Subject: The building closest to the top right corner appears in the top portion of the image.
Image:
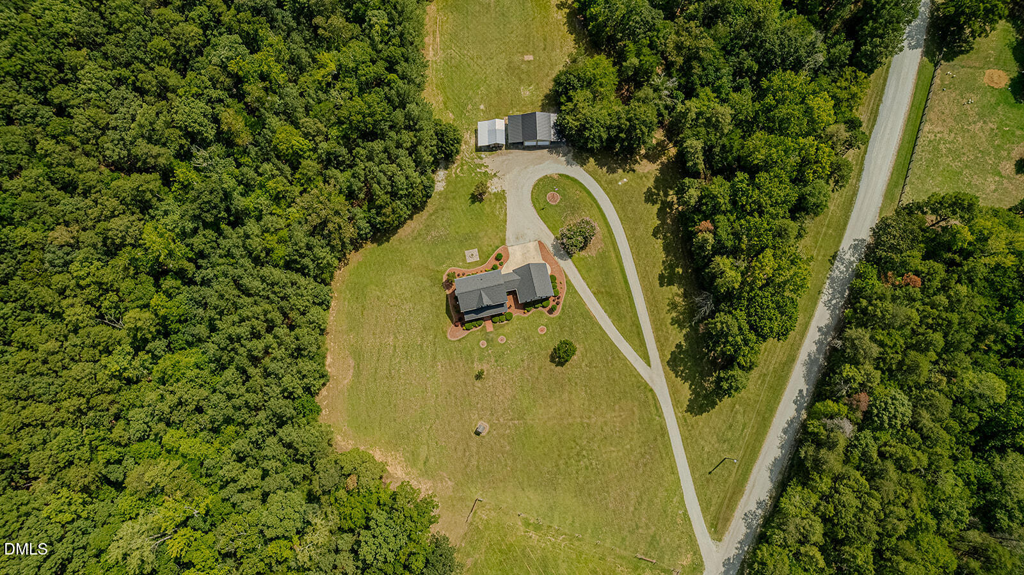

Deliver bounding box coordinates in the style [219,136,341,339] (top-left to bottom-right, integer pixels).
[508,111,557,148]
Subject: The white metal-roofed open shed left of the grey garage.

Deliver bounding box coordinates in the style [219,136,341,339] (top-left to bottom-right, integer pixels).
[478,119,505,150]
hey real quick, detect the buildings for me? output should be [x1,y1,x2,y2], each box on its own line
[478,119,505,150]
[453,263,554,322]
[508,111,557,148]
